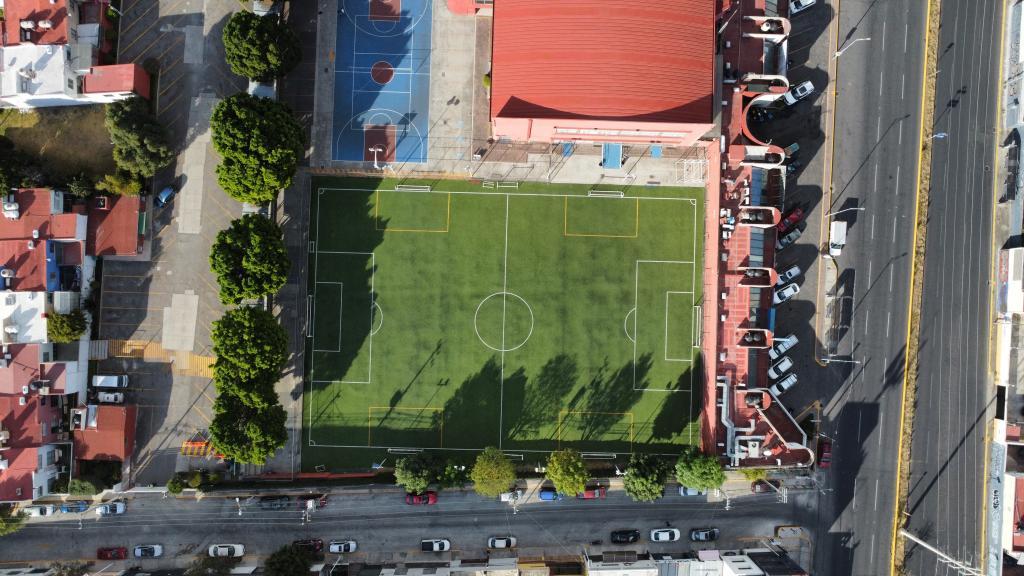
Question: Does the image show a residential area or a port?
residential area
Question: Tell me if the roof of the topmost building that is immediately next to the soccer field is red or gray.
red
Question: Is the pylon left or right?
right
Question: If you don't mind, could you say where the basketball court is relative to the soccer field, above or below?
above it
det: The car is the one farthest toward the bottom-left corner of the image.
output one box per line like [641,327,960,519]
[22,505,54,520]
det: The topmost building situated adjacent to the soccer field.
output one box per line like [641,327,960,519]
[487,0,721,141]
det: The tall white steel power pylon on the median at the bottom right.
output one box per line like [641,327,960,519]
[898,529,994,576]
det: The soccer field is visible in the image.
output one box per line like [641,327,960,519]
[301,178,704,472]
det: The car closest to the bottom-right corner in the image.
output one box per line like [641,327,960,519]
[818,440,832,468]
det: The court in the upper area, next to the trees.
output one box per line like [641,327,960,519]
[332,0,432,163]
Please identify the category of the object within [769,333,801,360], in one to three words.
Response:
truck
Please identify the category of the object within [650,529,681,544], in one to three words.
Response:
car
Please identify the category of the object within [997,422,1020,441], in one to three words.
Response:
shed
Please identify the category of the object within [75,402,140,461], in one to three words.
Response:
house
